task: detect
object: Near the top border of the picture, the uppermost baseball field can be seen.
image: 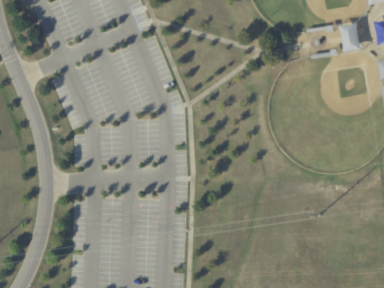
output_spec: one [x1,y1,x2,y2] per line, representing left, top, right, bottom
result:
[253,0,370,32]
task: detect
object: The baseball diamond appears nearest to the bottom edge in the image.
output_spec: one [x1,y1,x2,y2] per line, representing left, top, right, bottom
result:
[270,51,384,173]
